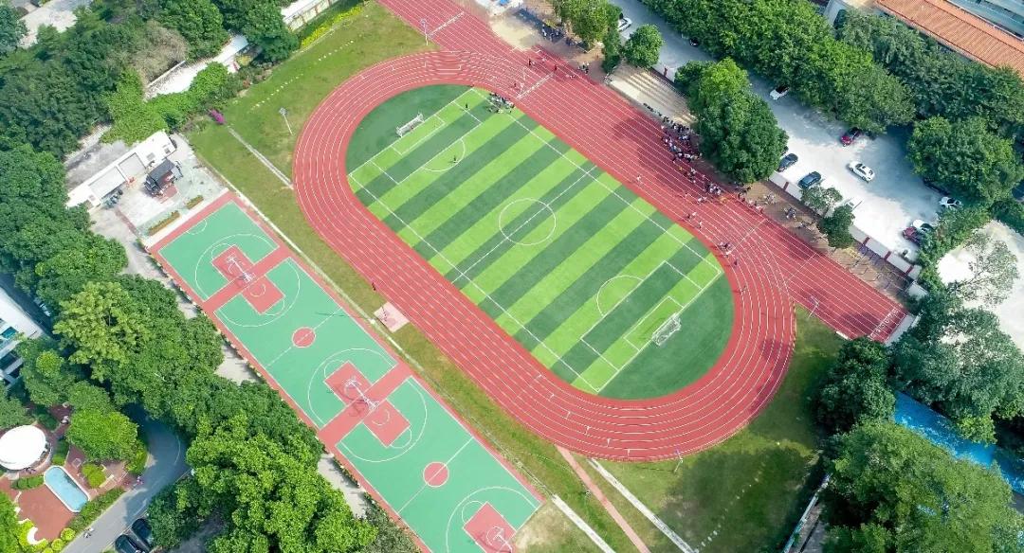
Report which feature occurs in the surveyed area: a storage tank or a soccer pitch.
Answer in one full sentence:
The one in the frame is a soccer pitch.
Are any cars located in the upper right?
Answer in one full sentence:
Yes, in the upper right there is a car.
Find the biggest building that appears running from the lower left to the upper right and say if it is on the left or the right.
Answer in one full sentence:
You can find the biggest building that appears running from the lower left to the upper right on the left side of the picture.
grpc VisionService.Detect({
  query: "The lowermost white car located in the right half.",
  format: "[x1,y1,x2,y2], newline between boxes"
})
[894,247,923,266]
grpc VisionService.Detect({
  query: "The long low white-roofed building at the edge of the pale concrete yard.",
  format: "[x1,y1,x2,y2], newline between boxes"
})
[68,129,185,223]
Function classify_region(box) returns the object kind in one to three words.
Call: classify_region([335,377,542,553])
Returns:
basketball court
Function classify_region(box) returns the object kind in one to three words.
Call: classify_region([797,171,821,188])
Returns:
car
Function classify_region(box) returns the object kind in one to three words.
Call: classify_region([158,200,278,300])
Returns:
basketball court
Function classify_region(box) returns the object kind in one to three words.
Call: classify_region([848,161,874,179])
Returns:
car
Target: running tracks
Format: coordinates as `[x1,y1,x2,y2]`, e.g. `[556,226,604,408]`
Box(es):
[289,0,907,465]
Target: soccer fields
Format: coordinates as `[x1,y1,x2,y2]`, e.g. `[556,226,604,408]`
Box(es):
[346,84,732,399]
